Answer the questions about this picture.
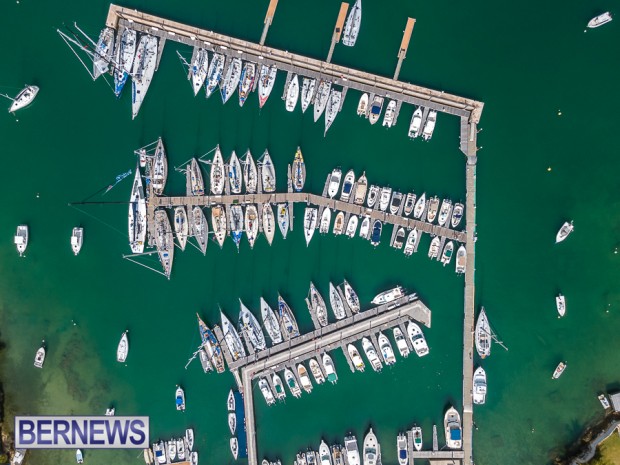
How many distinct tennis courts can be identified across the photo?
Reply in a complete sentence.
There are no tennis courts in this view.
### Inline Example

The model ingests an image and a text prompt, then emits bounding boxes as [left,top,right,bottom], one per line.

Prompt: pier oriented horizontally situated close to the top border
[105,4,484,124]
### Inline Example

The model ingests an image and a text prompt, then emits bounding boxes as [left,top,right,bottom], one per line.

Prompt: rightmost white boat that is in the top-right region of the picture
[586,12,612,30]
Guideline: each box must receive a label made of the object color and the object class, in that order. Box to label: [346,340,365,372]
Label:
white boat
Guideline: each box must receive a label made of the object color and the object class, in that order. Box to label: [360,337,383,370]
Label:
white boat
